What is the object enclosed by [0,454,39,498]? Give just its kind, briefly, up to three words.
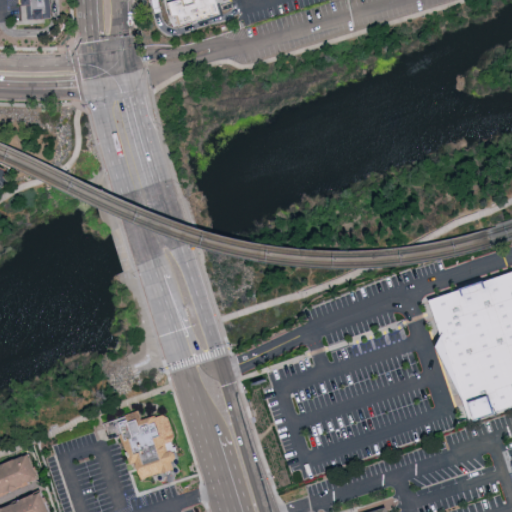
building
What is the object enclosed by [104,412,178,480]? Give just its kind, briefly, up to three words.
building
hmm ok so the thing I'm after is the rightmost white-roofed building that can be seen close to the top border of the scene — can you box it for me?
[165,0,222,29]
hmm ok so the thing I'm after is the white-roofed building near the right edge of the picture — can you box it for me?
[426,270,512,420]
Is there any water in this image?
Yes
